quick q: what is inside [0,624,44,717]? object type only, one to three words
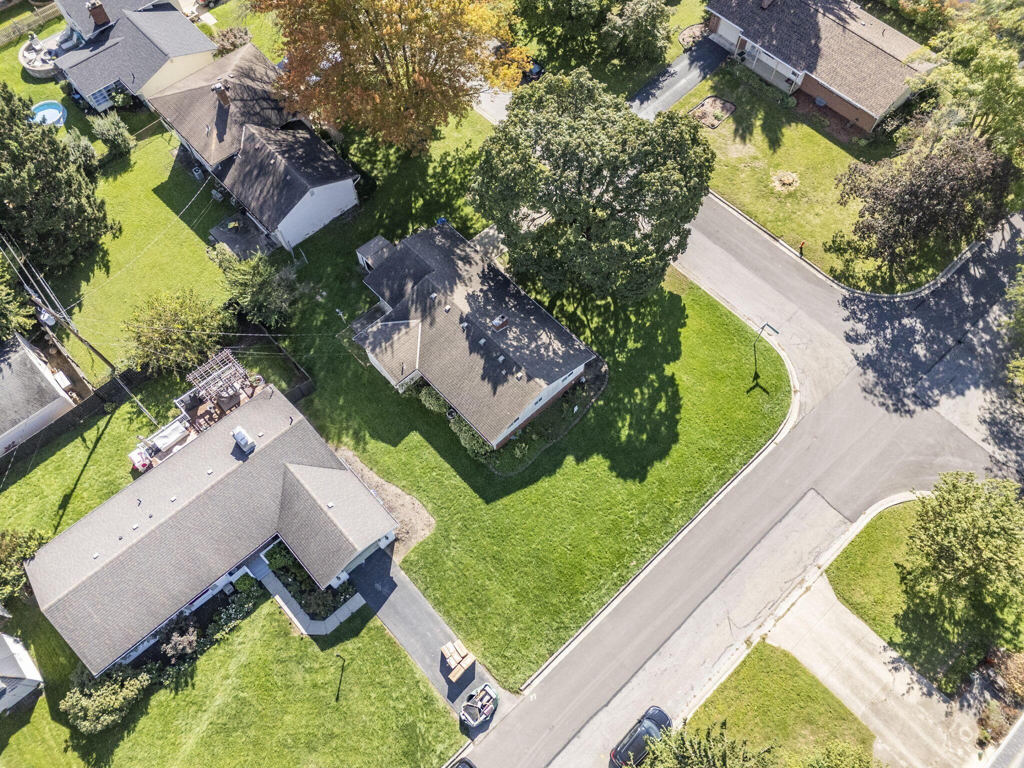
house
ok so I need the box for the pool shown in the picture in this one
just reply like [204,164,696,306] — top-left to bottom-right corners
[29,100,73,132]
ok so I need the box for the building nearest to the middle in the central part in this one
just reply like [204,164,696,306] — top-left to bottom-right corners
[352,224,597,452]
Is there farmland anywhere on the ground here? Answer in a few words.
No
